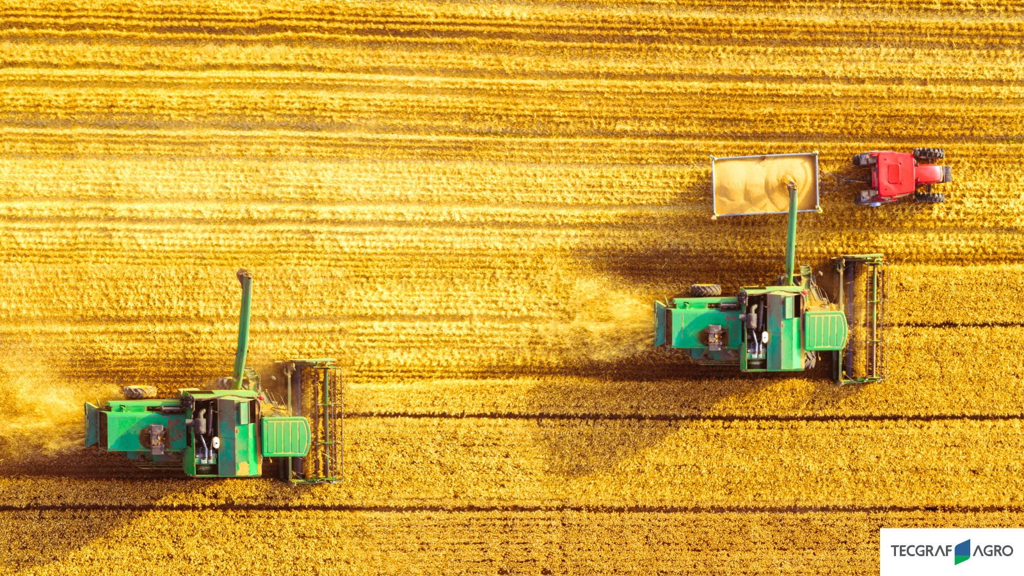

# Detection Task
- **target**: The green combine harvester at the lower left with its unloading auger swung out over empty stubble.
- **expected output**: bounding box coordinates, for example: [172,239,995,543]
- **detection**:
[83,268,346,487]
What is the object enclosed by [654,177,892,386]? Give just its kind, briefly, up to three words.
work vehicle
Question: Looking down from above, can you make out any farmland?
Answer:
Yes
